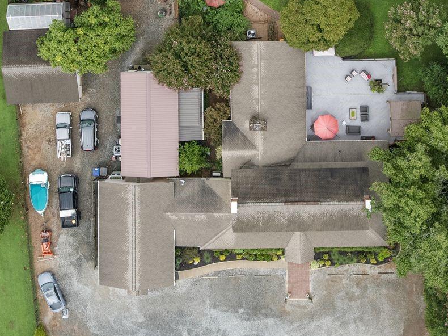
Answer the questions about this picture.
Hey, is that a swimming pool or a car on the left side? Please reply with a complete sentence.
It is a car that can be seen on the left side.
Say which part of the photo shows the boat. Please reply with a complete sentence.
You can find the boat in the left area of the picture.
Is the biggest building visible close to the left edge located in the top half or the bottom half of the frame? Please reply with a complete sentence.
You can find the biggest building visible close to the left edge in the top half.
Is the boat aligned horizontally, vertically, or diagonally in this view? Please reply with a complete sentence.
The boat has been laid out vertically relative to the frame.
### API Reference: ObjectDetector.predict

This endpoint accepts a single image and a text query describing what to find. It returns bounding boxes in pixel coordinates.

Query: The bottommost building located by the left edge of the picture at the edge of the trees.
[2,27,83,104]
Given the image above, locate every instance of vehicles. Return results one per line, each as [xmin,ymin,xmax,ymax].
[53,111,73,156]
[77,109,99,152]
[56,175,79,227]
[40,271,65,314]
[41,232,56,257]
